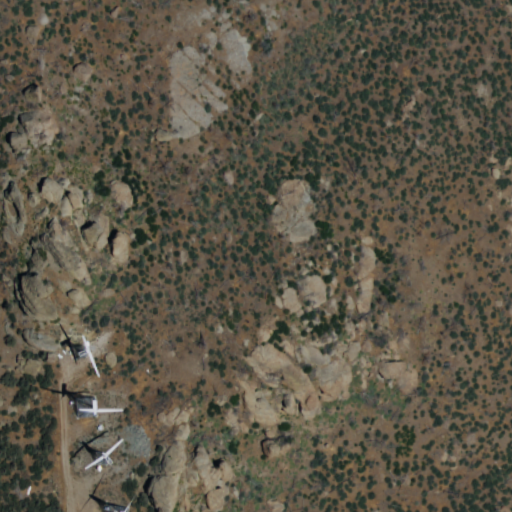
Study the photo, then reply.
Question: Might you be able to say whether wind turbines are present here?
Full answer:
Yes, I can see a wind turbine in this picture.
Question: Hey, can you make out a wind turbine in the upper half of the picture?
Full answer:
No, I see no wind turbine in the upper half of the picture.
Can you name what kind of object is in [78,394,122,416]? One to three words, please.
wind turbine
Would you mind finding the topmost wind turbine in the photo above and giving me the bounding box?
[76,331,99,372]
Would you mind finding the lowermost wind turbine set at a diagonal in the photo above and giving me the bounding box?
[85,439,124,470]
